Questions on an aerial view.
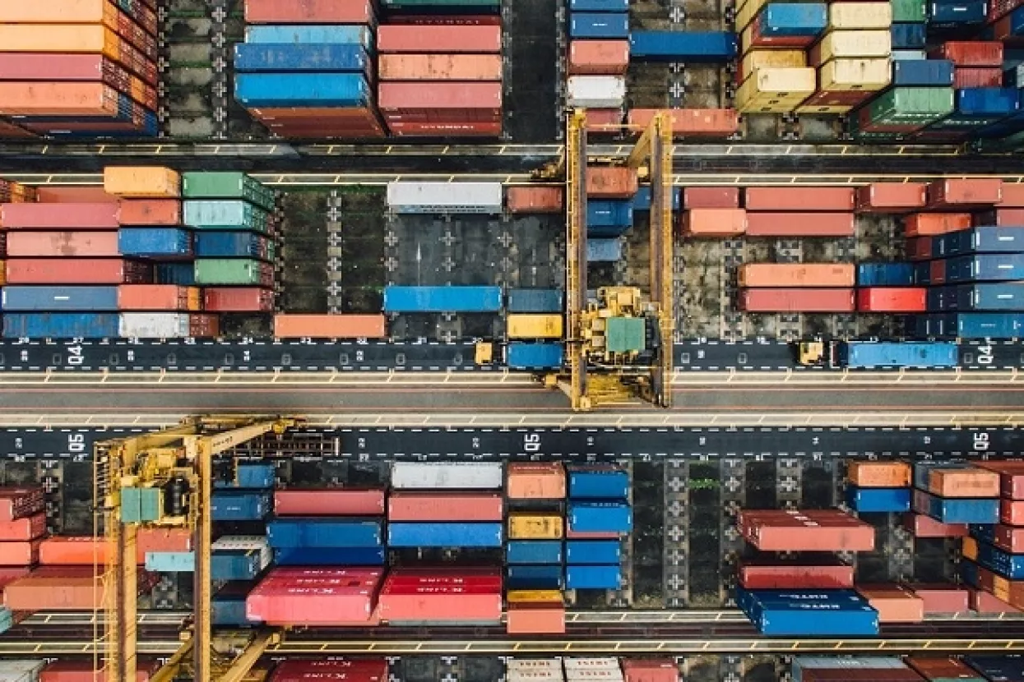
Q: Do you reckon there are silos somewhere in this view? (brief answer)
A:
No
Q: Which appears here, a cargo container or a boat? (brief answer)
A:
cargo container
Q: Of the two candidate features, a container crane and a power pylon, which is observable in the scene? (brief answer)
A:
container crane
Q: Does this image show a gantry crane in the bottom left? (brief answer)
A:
Yes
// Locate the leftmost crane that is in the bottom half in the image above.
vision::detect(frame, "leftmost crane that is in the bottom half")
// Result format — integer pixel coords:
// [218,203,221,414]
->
[85,412,314,682]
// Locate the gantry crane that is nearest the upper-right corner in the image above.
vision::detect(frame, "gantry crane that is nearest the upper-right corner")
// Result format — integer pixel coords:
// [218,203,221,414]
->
[523,112,675,404]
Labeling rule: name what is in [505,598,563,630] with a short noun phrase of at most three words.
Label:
shipping container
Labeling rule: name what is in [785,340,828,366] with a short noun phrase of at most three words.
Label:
truck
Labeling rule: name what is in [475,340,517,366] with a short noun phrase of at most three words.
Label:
truck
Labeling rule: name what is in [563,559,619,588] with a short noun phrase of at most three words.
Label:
shipping container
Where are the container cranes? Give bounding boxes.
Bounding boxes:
[523,112,675,404]
[85,412,314,682]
